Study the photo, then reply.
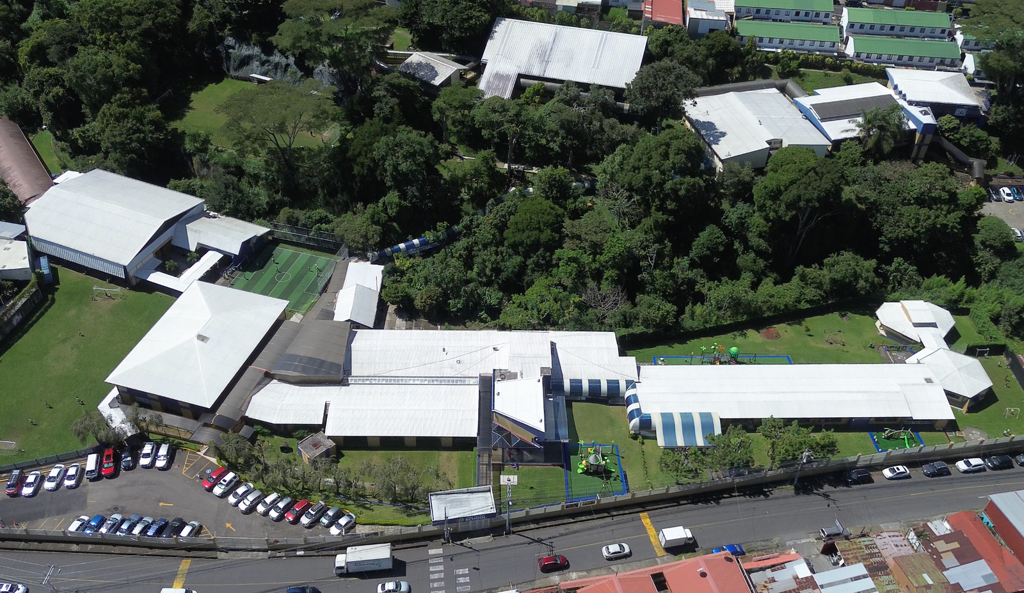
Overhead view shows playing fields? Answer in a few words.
Yes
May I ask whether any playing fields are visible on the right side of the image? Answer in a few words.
No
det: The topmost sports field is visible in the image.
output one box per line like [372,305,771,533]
[224,243,339,315]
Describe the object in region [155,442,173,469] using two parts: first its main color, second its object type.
white car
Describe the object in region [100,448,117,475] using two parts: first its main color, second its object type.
red car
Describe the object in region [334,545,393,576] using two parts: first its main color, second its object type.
white truck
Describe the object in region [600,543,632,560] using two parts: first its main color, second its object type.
white car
